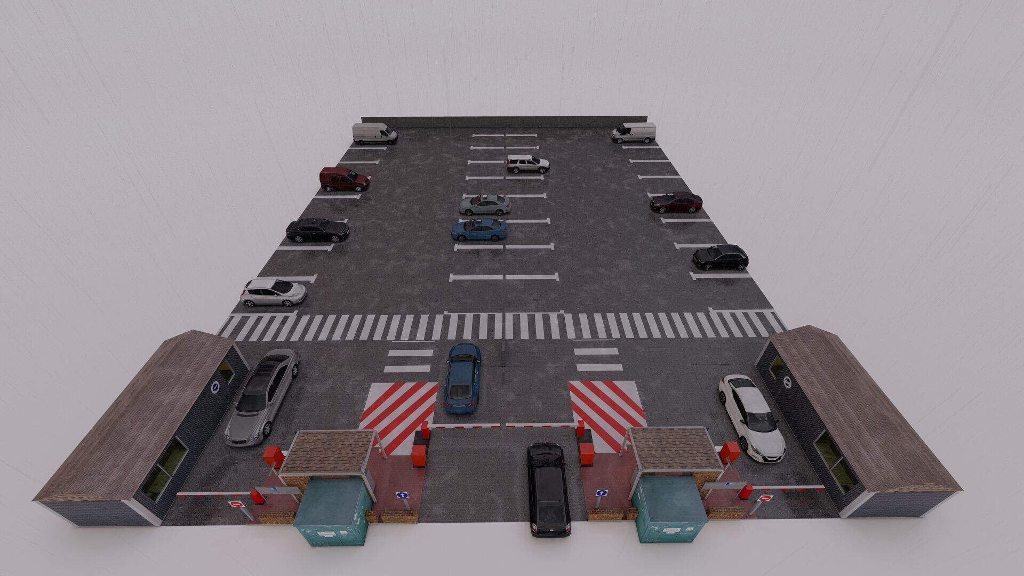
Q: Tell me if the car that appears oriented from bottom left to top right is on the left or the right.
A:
left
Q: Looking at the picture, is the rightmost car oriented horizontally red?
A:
No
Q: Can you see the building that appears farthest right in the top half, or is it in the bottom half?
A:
bottom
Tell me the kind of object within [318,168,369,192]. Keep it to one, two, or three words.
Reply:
car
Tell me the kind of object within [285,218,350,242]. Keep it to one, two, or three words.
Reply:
car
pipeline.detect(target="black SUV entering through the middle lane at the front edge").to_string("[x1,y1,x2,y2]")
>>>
[525,442,575,541]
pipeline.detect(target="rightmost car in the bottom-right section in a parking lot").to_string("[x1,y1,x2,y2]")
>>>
[721,376,789,466]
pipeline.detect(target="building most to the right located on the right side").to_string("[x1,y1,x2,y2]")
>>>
[755,327,964,518]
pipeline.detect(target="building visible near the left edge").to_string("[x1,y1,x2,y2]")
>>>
[31,331,250,527]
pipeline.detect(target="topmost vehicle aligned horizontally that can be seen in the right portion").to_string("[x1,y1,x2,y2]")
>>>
[611,122,657,143]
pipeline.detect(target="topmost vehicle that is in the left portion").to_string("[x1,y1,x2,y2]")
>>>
[352,122,399,145]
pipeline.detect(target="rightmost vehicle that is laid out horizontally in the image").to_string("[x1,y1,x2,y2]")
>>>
[693,244,750,270]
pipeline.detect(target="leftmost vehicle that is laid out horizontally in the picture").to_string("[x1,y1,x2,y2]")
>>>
[240,276,308,307]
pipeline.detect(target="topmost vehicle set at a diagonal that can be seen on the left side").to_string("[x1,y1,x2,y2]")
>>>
[221,349,300,446]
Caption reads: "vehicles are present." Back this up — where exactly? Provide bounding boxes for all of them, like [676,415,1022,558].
[352,122,399,145]
[442,342,482,413]
[285,218,350,242]
[693,244,750,270]
[611,122,657,143]
[650,191,705,213]
[451,218,508,241]
[721,376,789,466]
[508,154,552,173]
[459,194,511,215]
[318,168,369,192]
[240,276,308,307]
[221,349,300,446]
[525,442,575,541]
